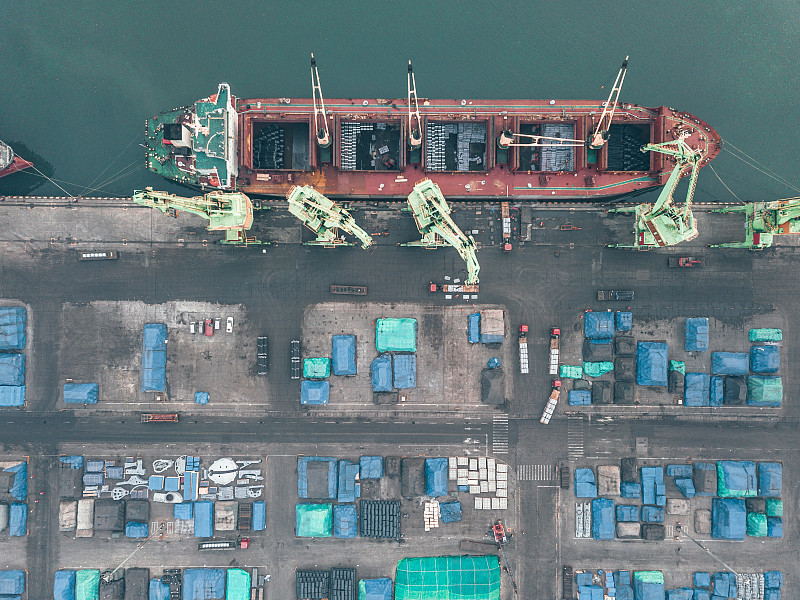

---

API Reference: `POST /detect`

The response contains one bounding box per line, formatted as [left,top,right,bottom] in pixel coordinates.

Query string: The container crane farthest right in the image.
[702,197,800,244]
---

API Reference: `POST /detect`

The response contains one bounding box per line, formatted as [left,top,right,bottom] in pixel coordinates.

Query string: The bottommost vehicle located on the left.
[198,537,248,550]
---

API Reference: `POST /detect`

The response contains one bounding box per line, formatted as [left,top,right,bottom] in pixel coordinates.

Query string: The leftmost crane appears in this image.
[121,180,274,244]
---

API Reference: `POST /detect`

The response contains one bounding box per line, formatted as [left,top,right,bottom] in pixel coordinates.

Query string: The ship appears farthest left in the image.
[0,142,34,180]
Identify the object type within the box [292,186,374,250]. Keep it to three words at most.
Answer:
container crane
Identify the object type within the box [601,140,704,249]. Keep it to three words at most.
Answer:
container crane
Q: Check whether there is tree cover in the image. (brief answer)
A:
No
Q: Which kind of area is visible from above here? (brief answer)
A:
port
